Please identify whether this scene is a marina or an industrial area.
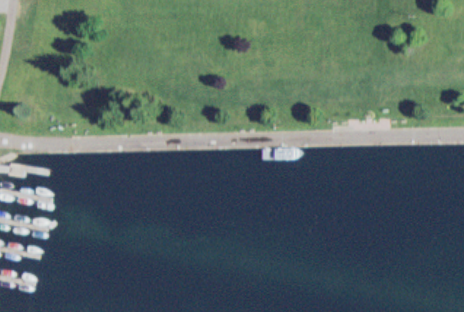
marina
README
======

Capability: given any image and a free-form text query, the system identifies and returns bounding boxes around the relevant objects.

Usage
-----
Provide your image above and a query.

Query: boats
[20,188,34,198]
[32,218,52,230]
[0,280,16,290]
[32,230,48,240]
[48,222,59,230]
[35,186,54,198]
[18,283,36,293]
[262,146,303,161]
[0,270,17,280]
[20,272,38,286]
[0,182,14,190]
[36,198,56,210]
[4,252,22,262]
[26,246,44,258]
[0,192,14,202]
[0,212,11,222]
[0,224,10,232]
[16,195,34,206]
[7,242,24,252]
[14,216,30,226]
[12,226,30,236]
